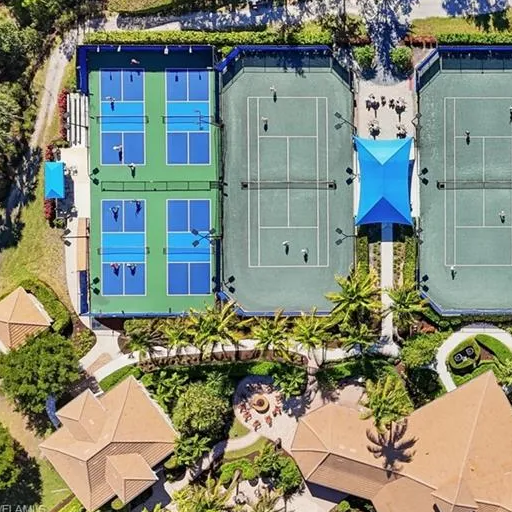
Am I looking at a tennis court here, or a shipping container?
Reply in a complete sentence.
There is a tennis court in the scene.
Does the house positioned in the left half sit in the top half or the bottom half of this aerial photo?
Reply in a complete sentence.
The house positioned in the left half is in the bottom half of the image.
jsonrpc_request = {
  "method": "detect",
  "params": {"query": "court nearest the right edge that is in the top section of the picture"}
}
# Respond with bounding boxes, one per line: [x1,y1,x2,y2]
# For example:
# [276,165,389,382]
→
[418,51,512,311]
